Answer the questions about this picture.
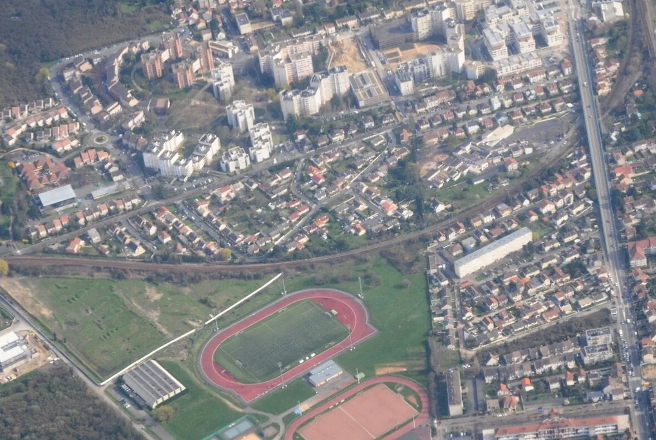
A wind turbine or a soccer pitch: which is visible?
soccer pitch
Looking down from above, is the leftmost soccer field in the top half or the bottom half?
bottom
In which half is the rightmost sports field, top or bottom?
bottom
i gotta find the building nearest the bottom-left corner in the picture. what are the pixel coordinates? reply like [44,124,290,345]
[0,331,27,372]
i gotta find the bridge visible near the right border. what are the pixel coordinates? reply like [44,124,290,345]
[568,0,625,281]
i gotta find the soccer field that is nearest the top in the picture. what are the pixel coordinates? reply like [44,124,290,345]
[218,299,350,380]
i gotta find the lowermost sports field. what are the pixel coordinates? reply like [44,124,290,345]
[298,383,418,440]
